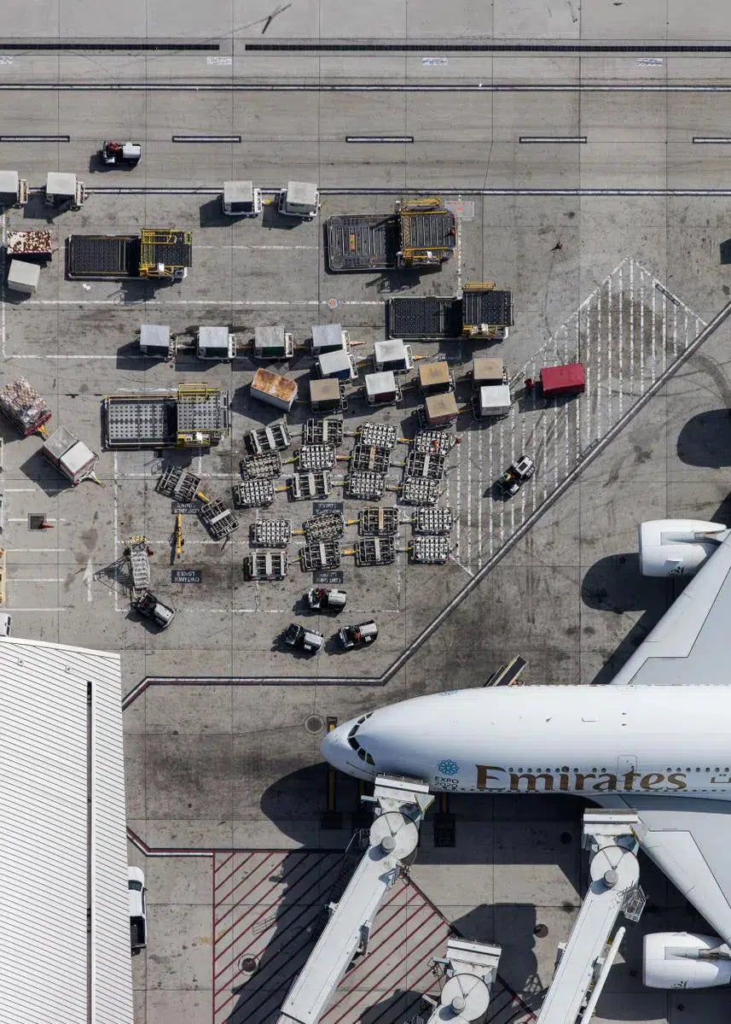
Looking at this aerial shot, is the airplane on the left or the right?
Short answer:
right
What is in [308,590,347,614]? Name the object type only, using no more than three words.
work vehicle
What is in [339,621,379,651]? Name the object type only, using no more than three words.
work vehicle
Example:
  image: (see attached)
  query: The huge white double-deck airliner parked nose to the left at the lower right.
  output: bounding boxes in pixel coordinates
[321,518,731,990]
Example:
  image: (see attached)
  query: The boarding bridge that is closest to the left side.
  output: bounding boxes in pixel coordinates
[276,776,434,1024]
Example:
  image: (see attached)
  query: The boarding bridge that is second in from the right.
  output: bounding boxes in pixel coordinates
[421,940,501,1024]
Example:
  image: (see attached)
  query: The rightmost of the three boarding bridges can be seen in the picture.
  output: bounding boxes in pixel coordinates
[526,810,646,1024]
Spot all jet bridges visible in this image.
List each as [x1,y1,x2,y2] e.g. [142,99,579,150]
[276,776,434,1024]
[526,810,646,1024]
[421,940,501,1024]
